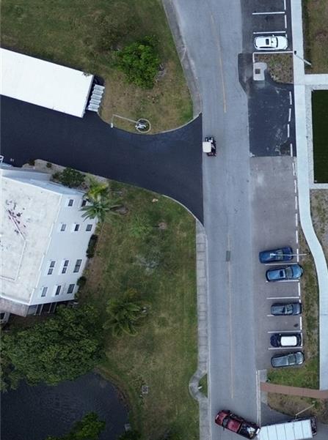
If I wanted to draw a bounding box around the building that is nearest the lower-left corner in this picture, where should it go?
[0,166,104,314]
